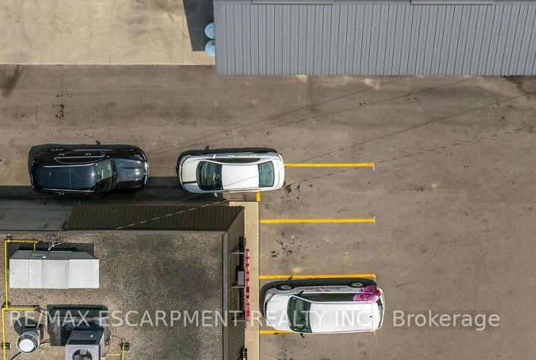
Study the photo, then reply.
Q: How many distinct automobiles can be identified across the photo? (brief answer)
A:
3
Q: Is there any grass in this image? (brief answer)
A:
No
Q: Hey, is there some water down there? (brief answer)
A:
No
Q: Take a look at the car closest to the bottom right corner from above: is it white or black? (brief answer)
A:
white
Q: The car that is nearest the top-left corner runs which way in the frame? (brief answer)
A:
from left to right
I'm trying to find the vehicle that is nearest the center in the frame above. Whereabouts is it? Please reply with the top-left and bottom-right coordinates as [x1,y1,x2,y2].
[178,153,285,203]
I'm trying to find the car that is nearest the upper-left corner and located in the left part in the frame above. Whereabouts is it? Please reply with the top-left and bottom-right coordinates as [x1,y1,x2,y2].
[30,151,150,205]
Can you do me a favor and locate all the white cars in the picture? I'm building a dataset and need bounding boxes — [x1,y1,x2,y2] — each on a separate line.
[263,281,385,341]
[178,153,285,203]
